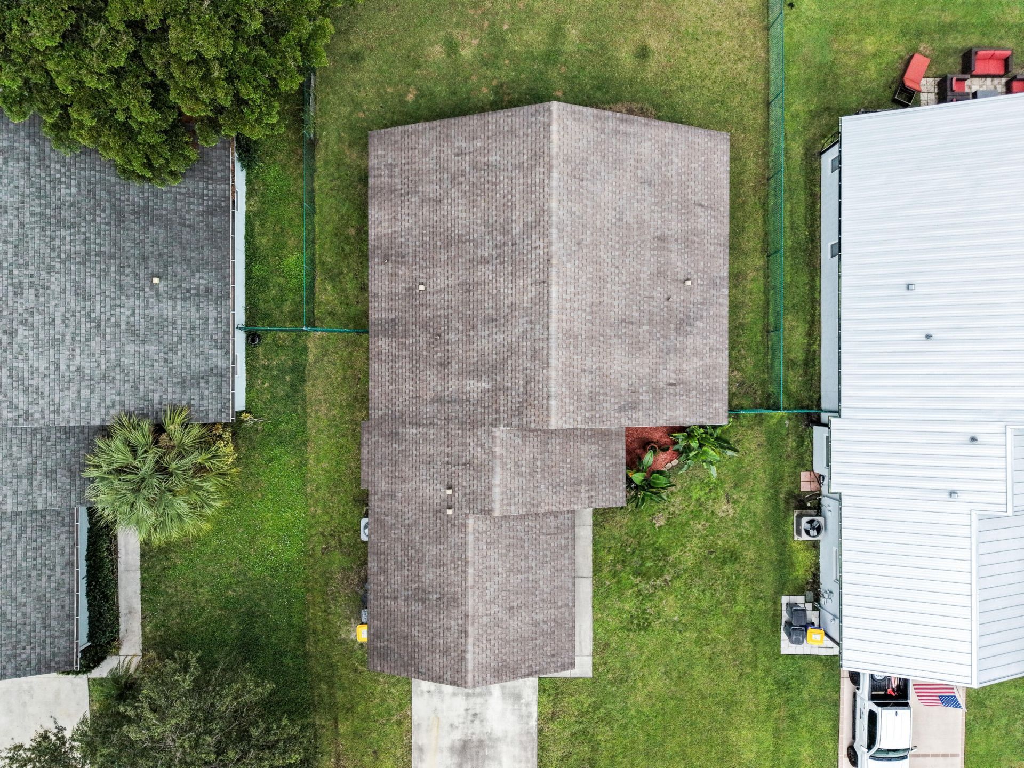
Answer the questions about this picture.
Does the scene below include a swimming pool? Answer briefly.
No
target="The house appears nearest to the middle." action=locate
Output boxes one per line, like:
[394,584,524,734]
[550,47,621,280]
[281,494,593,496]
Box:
[361,102,733,688]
